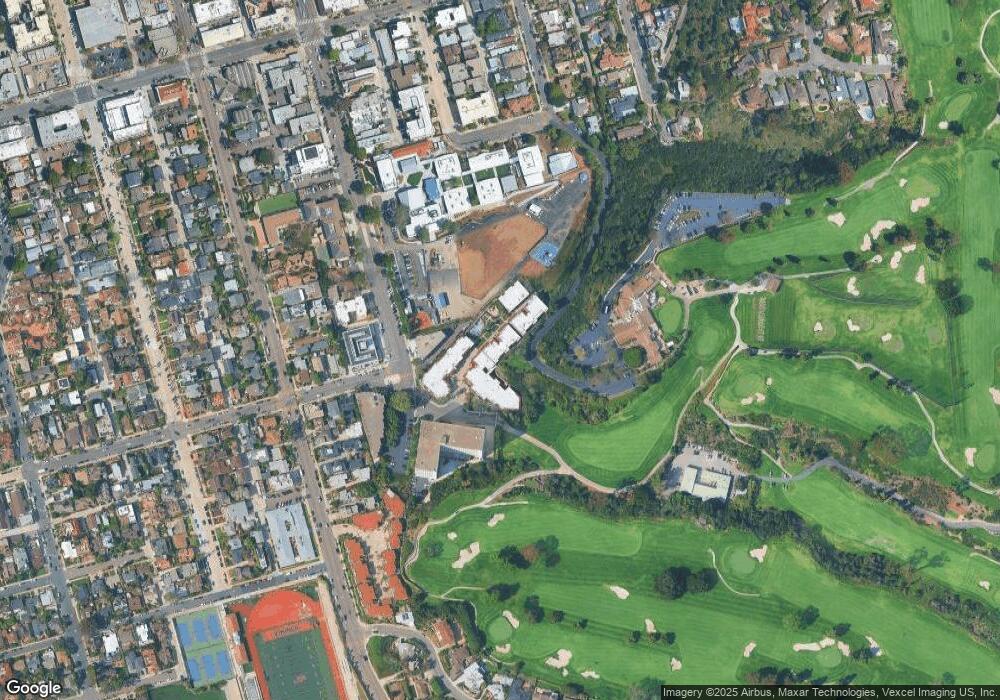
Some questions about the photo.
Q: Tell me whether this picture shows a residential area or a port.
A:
residential area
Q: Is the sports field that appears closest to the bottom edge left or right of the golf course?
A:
on its left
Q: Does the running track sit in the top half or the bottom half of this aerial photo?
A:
bottom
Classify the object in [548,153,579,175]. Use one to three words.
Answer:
building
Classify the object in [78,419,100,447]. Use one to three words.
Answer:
house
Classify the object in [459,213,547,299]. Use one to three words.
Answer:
sports field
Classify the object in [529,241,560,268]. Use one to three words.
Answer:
basketball court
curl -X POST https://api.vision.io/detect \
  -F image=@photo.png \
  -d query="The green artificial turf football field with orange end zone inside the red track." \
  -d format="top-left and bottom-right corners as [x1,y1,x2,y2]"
[255,621,339,700]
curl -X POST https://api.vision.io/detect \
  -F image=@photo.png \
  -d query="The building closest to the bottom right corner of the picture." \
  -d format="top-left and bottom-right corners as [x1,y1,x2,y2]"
[682,467,731,501]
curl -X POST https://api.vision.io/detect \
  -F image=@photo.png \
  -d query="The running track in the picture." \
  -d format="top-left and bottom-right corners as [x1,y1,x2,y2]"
[230,590,348,700]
